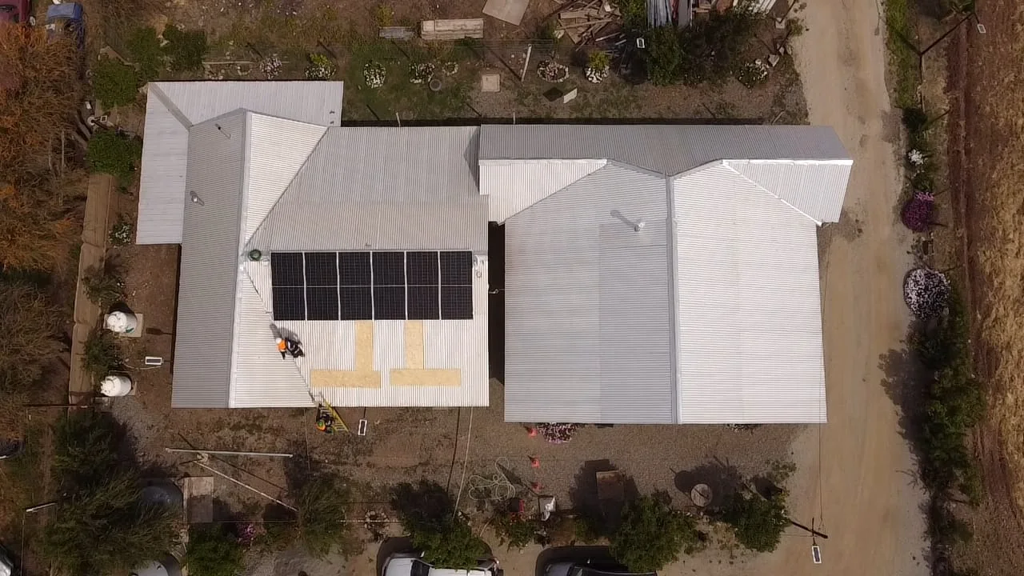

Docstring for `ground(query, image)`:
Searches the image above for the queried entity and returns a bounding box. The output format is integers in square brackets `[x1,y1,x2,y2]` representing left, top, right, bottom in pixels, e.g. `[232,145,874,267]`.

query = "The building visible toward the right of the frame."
[479,125,853,423]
